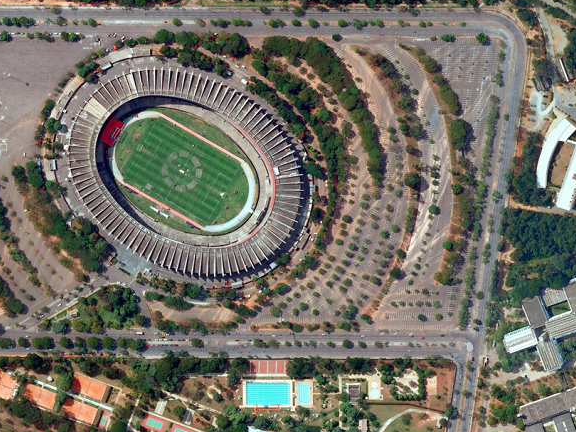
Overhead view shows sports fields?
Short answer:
Yes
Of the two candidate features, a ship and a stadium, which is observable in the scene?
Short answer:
stadium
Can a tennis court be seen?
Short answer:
Yes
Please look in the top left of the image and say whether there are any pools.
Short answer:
No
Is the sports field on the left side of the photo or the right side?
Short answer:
left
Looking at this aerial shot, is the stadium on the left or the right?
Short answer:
left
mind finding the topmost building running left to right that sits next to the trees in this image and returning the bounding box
[98,49,151,67]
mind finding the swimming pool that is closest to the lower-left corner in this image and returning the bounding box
[243,379,292,407]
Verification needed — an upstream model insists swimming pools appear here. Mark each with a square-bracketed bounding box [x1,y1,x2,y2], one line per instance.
[243,379,292,407]
[370,388,381,399]
[295,379,312,407]
[369,379,380,390]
